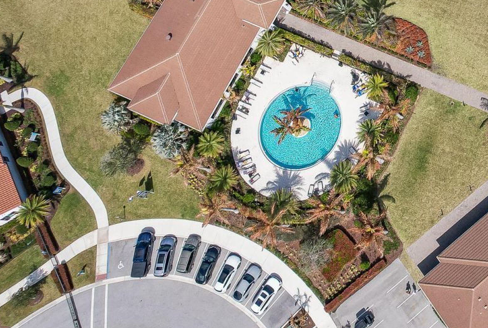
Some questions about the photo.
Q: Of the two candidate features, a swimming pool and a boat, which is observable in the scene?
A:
swimming pool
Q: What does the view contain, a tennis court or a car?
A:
car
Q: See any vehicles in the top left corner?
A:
No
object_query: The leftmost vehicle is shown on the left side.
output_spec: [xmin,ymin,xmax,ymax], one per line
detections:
[131,232,156,276]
